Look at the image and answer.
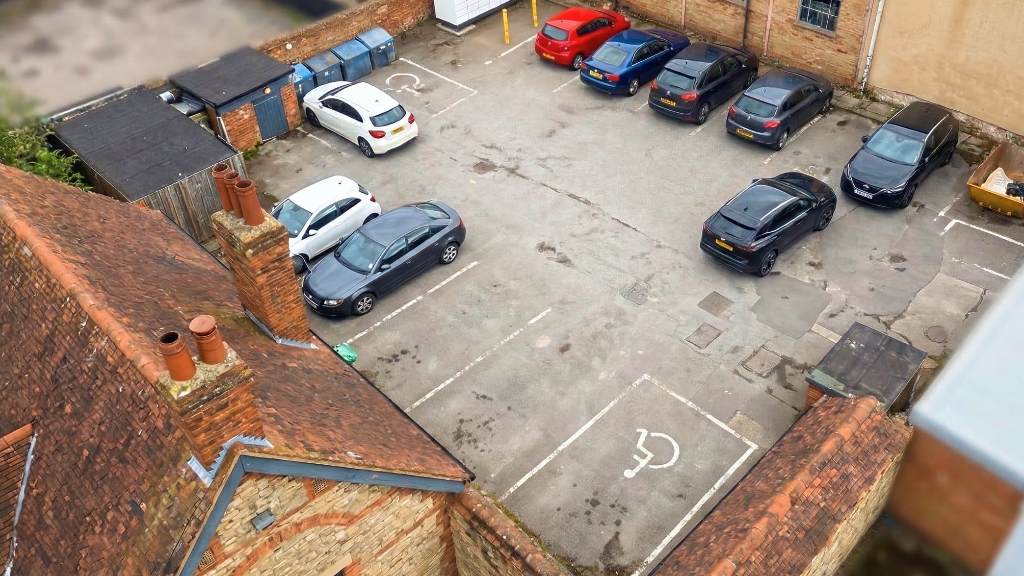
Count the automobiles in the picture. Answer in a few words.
9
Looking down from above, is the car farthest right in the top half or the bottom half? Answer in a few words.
top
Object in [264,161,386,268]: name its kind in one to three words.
car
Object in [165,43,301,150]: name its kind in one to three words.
shed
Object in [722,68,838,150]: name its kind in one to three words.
car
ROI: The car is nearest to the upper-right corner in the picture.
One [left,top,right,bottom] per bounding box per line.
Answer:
[835,98,966,209]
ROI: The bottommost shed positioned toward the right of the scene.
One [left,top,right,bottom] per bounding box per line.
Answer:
[799,320,932,426]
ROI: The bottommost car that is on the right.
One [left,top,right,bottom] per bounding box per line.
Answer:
[690,168,838,280]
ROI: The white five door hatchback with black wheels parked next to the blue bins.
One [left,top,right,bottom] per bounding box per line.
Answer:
[300,83,418,161]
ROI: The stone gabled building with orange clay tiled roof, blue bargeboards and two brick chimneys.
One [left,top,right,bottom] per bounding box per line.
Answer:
[0,164,487,576]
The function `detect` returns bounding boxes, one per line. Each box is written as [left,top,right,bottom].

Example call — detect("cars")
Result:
[300,198,468,319]
[529,6,631,71]
[300,83,418,161]
[645,43,762,124]
[264,161,386,268]
[835,98,966,209]
[722,68,838,150]
[690,168,838,280]
[575,24,694,96]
